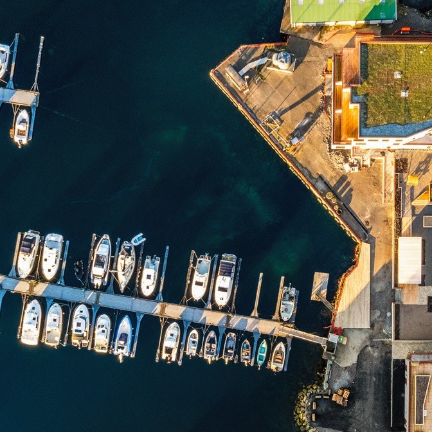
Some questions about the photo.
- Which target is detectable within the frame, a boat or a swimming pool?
boat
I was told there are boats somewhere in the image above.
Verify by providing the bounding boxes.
[218,329,235,364]
[133,232,148,245]
[90,235,111,294]
[17,293,42,349]
[214,251,241,311]
[186,322,200,358]
[112,242,134,297]
[280,281,297,322]
[188,250,214,306]
[141,251,161,297]
[91,310,113,353]
[238,336,255,364]
[14,105,30,148]
[14,227,41,281]
[40,230,63,284]
[159,319,182,365]
[0,42,10,78]
[74,254,84,279]
[203,323,220,364]
[70,298,91,352]
[257,333,271,367]
[114,311,135,363]
[44,297,64,350]
[267,335,289,375]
